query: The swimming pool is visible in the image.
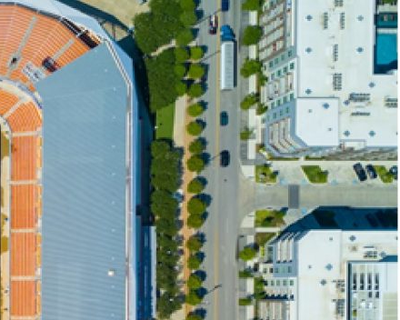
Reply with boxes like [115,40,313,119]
[375,0,400,73]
